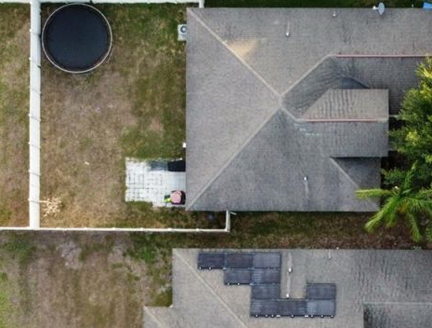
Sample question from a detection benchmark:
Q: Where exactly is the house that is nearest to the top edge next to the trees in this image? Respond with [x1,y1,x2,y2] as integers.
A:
[186,7,432,212]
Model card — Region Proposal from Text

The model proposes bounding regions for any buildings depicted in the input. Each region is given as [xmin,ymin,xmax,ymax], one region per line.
[143,248,432,328]
[186,7,432,212]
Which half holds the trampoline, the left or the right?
left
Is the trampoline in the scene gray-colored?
No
